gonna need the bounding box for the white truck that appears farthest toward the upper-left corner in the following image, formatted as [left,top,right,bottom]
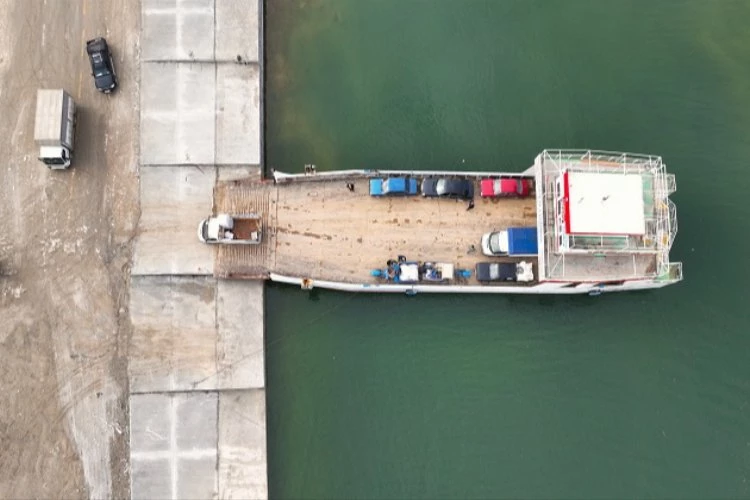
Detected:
[34,89,83,173]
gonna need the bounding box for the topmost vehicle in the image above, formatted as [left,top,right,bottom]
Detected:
[85,36,120,95]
